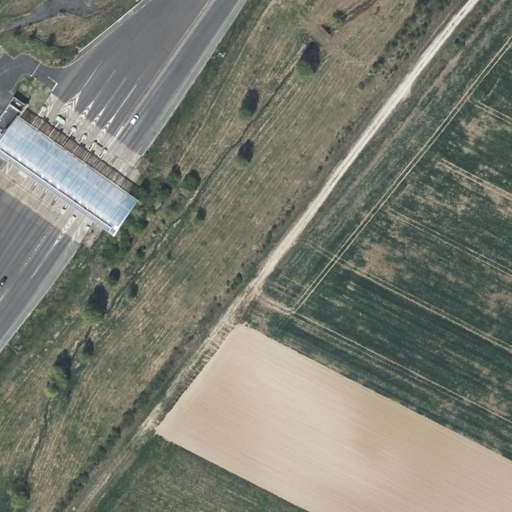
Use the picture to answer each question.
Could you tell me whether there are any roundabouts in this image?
No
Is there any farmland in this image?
Yes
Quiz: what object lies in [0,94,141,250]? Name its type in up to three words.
toll station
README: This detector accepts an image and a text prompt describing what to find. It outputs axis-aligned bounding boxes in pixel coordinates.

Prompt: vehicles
[0,276,8,286]
[130,114,140,125]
